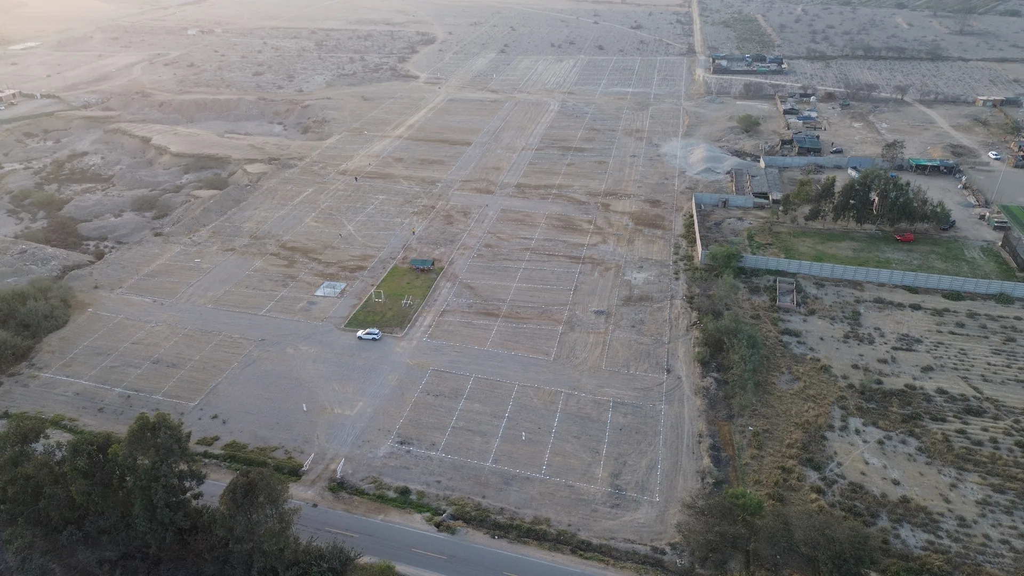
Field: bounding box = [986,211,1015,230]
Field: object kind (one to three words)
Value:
shed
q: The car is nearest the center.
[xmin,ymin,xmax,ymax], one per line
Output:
[355,327,383,342]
